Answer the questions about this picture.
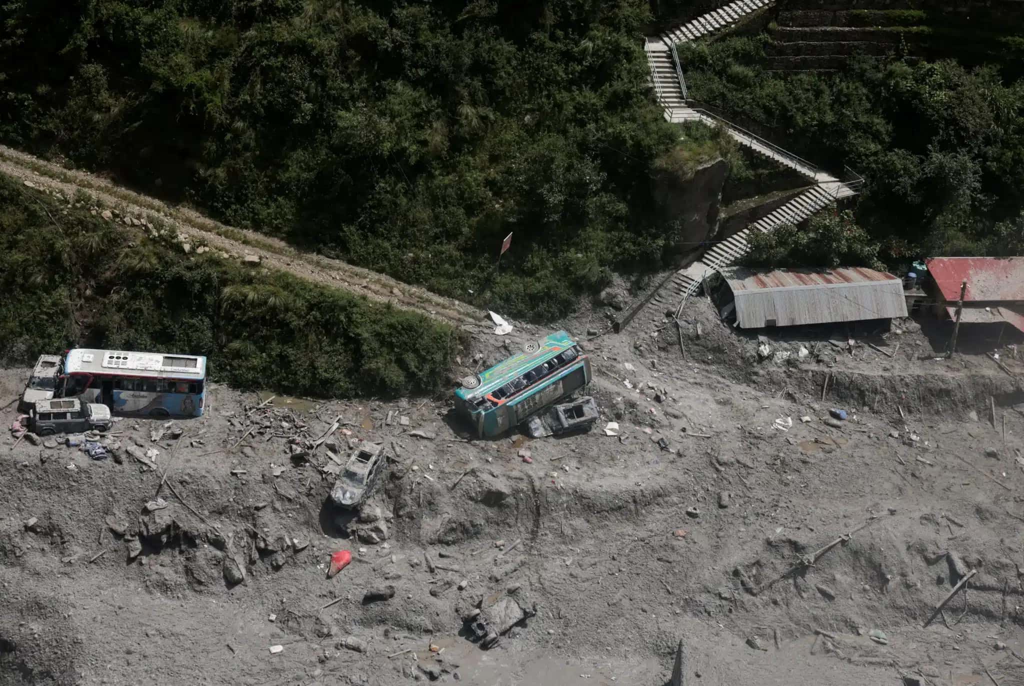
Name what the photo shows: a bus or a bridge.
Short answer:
bus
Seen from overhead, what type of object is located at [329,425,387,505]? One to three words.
car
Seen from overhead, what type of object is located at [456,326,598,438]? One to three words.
bus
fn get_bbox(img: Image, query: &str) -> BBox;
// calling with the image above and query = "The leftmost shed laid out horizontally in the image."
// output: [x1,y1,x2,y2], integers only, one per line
[718,268,908,340]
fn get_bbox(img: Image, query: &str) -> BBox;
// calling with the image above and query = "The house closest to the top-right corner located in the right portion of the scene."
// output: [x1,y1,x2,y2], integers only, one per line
[927,255,1024,342]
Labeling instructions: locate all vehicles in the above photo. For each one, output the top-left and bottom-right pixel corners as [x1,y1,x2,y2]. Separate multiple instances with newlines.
[523,392,601,443]
[329,425,387,505]
[59,353,212,413]
[456,326,598,438]
[27,396,113,436]
[13,355,64,416]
